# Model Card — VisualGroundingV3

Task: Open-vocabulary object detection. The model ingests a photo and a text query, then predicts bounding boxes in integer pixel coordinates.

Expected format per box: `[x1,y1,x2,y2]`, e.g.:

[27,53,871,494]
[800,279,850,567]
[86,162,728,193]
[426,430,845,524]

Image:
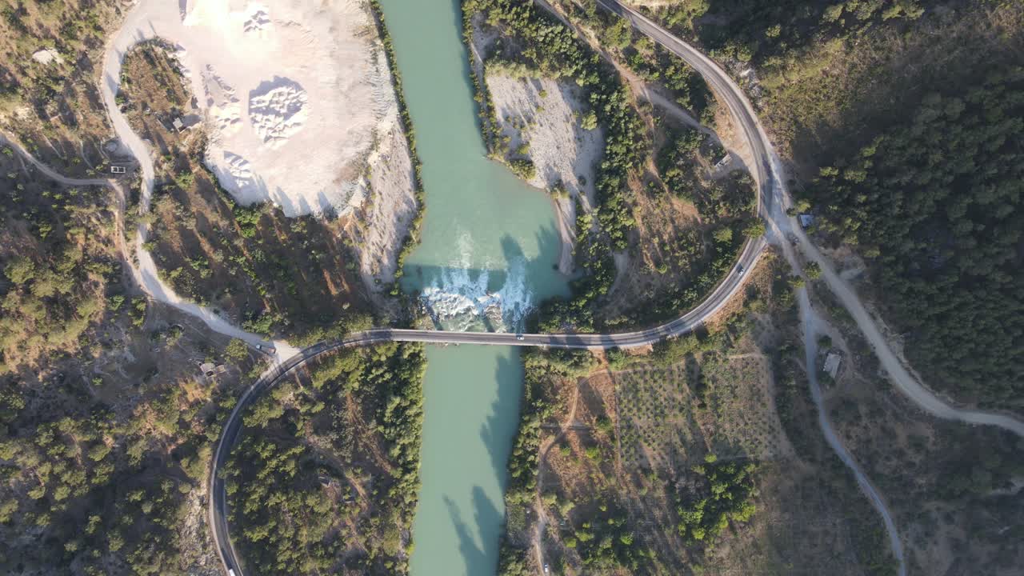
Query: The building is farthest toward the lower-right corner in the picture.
[821,352,842,378]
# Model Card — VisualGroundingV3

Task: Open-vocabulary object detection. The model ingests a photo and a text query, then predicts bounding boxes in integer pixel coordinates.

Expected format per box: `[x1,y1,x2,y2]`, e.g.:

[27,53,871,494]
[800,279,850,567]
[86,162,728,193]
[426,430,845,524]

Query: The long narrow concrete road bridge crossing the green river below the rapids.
[391,328,552,350]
